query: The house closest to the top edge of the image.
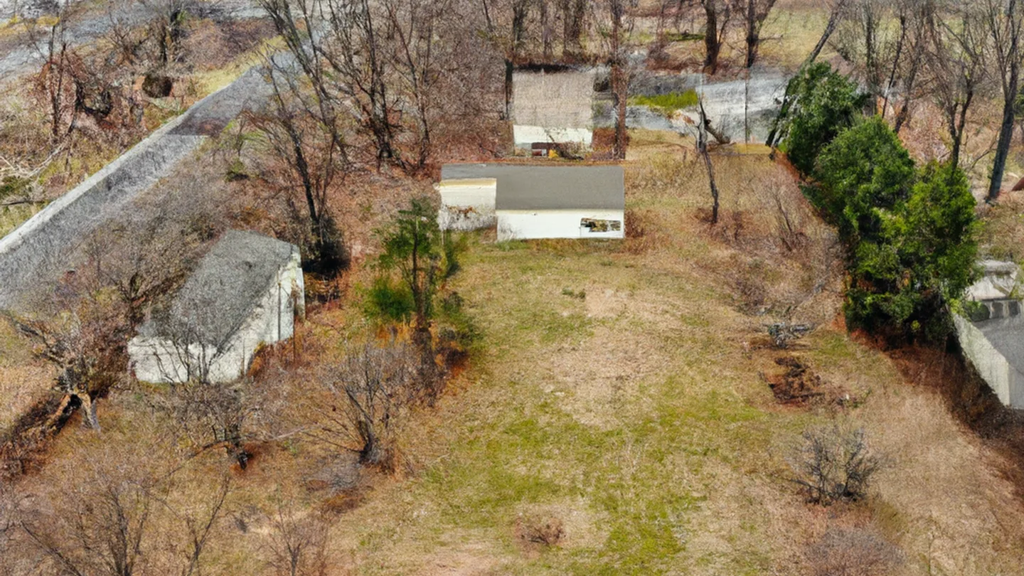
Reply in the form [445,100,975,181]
[511,68,599,159]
